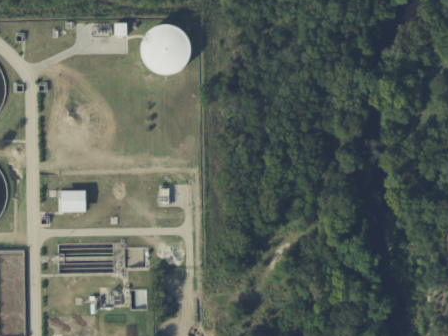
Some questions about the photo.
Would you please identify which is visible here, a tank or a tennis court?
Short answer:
tank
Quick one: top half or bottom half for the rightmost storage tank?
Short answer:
top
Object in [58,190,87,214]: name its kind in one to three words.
building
